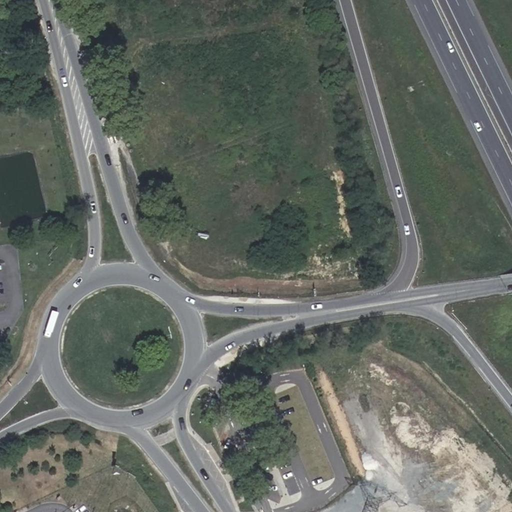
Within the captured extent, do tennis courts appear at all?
No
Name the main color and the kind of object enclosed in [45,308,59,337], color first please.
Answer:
white vehicle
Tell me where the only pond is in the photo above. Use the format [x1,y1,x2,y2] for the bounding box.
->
[0,153,44,225]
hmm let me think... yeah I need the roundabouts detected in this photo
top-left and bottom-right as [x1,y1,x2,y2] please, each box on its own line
[40,264,206,430]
